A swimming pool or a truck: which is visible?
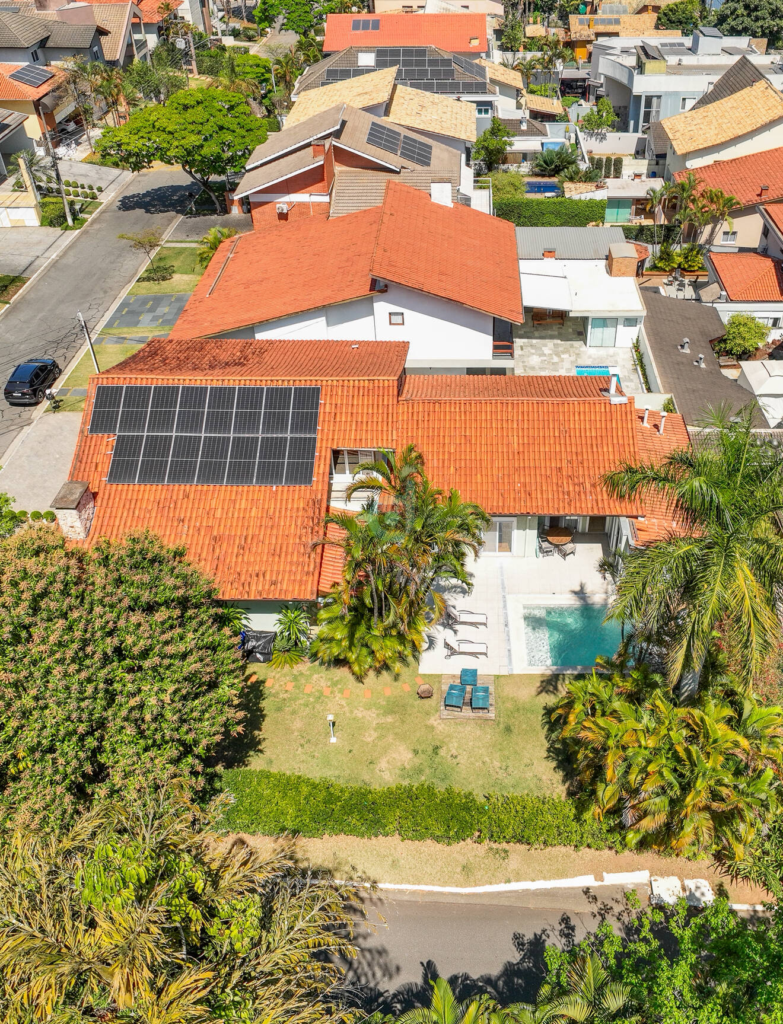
swimming pool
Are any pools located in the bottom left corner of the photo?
No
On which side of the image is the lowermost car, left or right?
left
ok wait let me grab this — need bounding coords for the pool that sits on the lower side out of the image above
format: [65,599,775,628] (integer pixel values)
[523,604,660,665]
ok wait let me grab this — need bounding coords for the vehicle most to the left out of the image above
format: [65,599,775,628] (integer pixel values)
[0,358,60,404]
